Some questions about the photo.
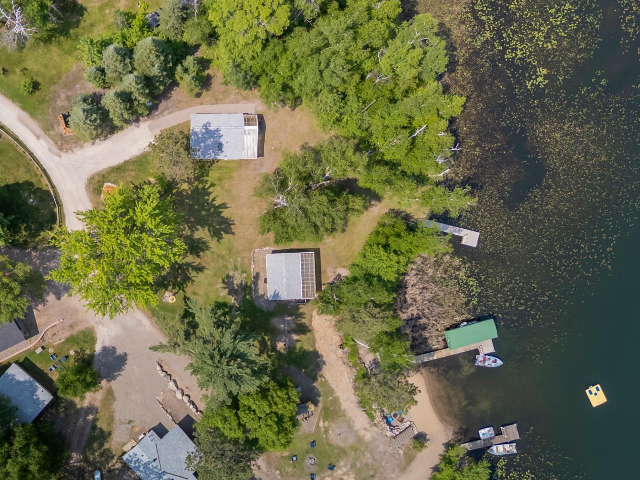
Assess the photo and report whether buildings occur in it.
Yes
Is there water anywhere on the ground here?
Yes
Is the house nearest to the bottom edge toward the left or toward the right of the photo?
left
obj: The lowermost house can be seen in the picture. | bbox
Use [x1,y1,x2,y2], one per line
[122,425,203,480]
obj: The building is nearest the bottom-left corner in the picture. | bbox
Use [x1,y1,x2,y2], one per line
[0,363,54,422]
